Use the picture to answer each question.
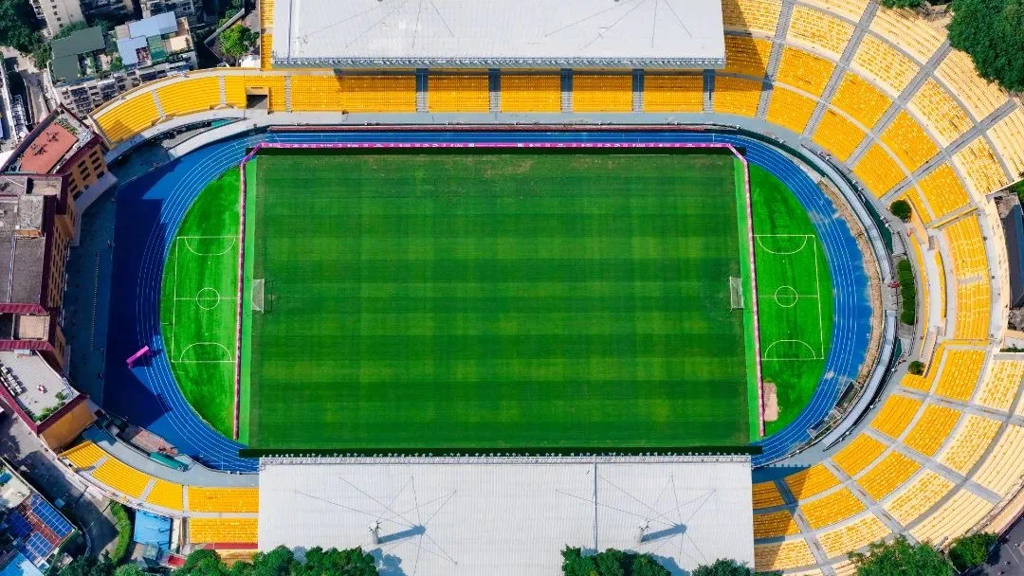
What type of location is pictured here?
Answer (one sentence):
It's a sports ground.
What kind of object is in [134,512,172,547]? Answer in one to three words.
shed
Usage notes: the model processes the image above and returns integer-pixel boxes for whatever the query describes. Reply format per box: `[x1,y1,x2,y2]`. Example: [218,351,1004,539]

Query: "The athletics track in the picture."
[103,126,883,475]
